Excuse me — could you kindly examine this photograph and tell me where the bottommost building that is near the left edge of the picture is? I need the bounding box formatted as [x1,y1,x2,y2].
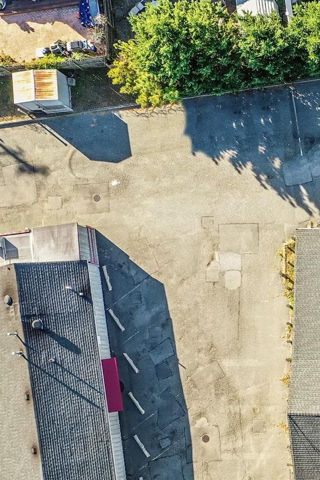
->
[0,223,127,480]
